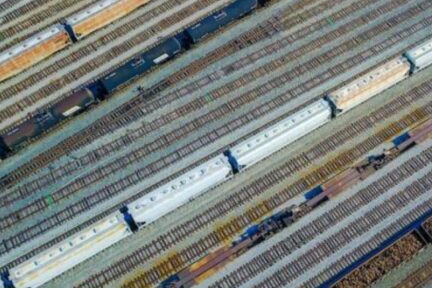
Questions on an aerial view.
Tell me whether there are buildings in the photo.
No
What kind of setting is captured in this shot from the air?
rail yard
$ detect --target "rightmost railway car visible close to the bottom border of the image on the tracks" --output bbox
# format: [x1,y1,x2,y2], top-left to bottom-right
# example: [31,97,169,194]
[4,206,135,288]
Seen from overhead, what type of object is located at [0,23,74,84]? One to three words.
rail car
